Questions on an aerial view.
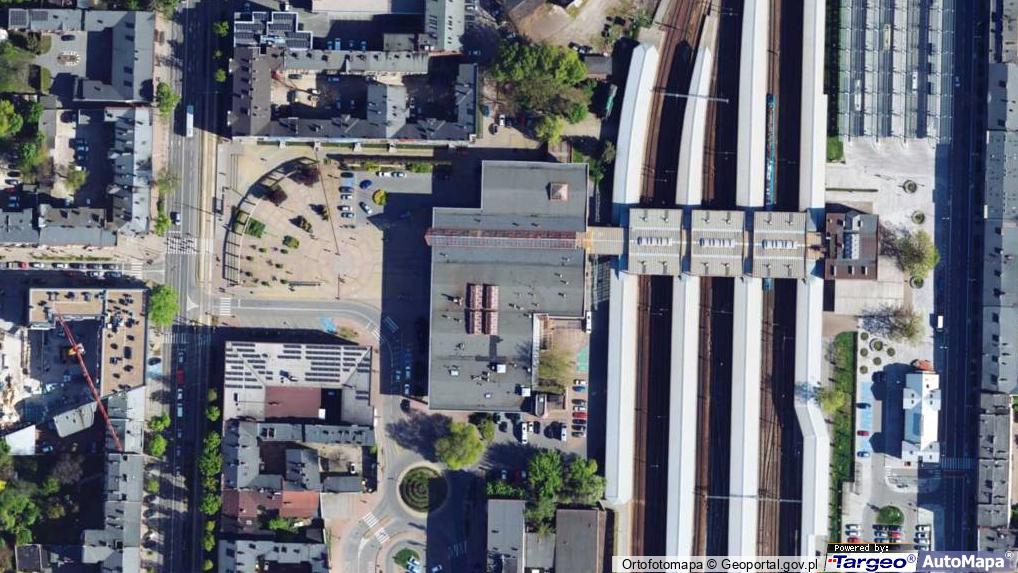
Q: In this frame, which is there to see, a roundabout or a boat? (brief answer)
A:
roundabout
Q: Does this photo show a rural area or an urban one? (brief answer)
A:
urban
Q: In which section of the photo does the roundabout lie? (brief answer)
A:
bottom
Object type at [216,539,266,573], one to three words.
building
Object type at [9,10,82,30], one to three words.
shed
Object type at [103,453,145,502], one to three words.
house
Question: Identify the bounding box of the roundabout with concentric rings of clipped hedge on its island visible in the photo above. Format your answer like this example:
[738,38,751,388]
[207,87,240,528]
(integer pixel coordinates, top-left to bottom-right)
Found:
[396,464,448,515]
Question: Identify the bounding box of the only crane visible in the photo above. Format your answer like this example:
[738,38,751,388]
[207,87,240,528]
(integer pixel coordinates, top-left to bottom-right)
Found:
[53,309,124,451]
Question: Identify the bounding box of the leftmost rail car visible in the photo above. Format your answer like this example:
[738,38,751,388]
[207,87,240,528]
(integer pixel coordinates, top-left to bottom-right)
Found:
[603,85,616,116]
